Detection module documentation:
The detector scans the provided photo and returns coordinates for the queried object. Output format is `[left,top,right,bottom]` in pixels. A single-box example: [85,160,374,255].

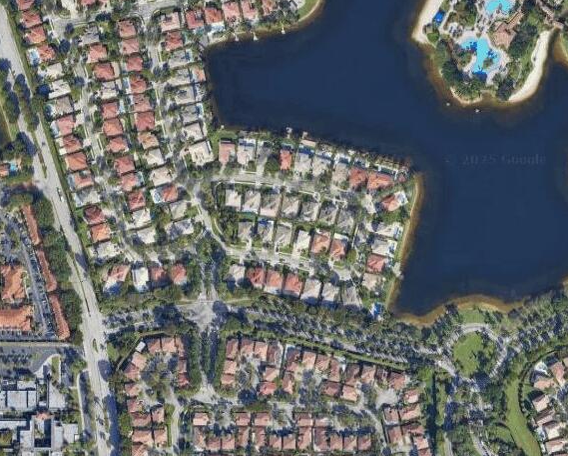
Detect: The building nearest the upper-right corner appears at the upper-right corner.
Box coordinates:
[490,10,522,46]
